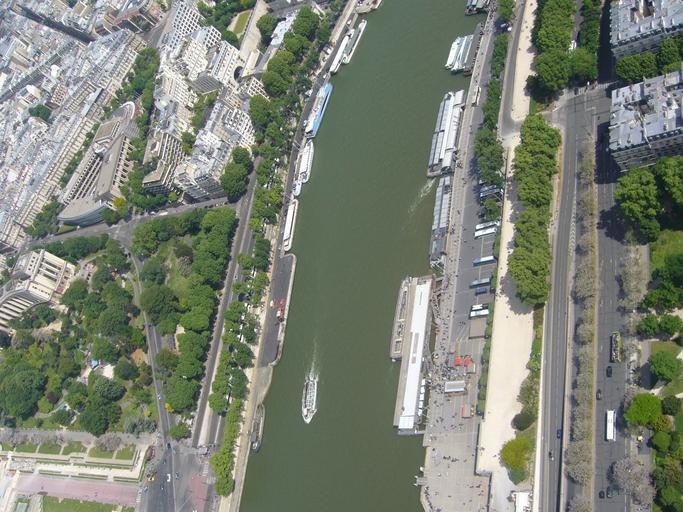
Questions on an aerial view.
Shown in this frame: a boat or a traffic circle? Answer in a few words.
boat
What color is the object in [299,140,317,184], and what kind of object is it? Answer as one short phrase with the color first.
white boat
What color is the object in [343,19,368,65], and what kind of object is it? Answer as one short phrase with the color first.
white ship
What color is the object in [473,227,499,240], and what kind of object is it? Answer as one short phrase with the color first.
white vehicle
